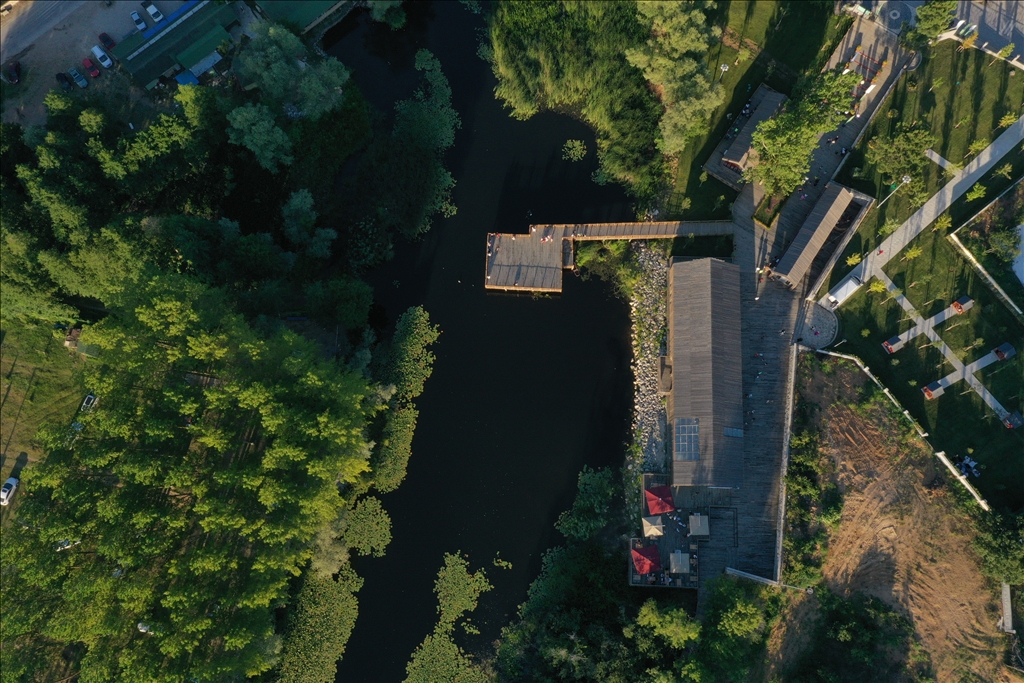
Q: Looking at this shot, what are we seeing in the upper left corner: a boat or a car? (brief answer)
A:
car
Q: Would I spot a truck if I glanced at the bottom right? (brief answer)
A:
No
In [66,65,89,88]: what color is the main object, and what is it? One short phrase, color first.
blue car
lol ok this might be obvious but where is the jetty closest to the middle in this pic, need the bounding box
[486,224,573,294]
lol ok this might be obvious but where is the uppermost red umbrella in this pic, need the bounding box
[643,483,675,515]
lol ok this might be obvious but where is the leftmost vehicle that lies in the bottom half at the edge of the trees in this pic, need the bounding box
[0,475,23,505]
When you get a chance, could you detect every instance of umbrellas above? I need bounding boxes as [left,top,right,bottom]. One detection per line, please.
[686,509,709,537]
[668,545,691,574]
[639,514,666,537]
[643,483,675,515]
[632,545,664,577]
